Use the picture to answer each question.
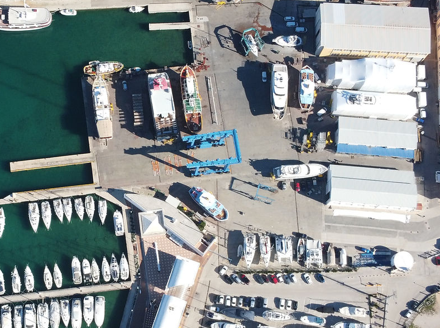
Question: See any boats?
Yes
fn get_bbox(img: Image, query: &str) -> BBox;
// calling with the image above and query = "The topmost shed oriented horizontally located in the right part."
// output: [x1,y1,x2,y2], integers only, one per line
[315,3,431,62]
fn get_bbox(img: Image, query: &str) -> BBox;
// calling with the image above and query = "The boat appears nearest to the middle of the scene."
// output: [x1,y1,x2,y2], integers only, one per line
[188,185,227,221]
